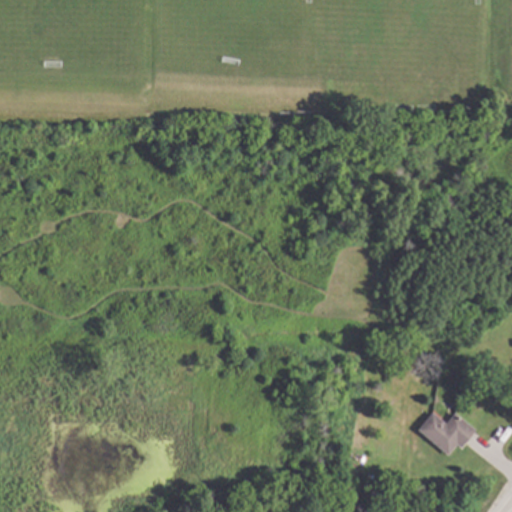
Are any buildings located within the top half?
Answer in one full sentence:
No, within the top half there is no building.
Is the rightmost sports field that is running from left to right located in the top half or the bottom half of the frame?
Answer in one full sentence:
It is in the top half that the rightmost sports field that is running from left to right appears.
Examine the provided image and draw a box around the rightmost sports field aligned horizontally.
[151,0,488,116]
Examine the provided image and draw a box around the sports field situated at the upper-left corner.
[0,0,151,120]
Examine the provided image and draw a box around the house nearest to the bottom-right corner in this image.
[420,413,476,456]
